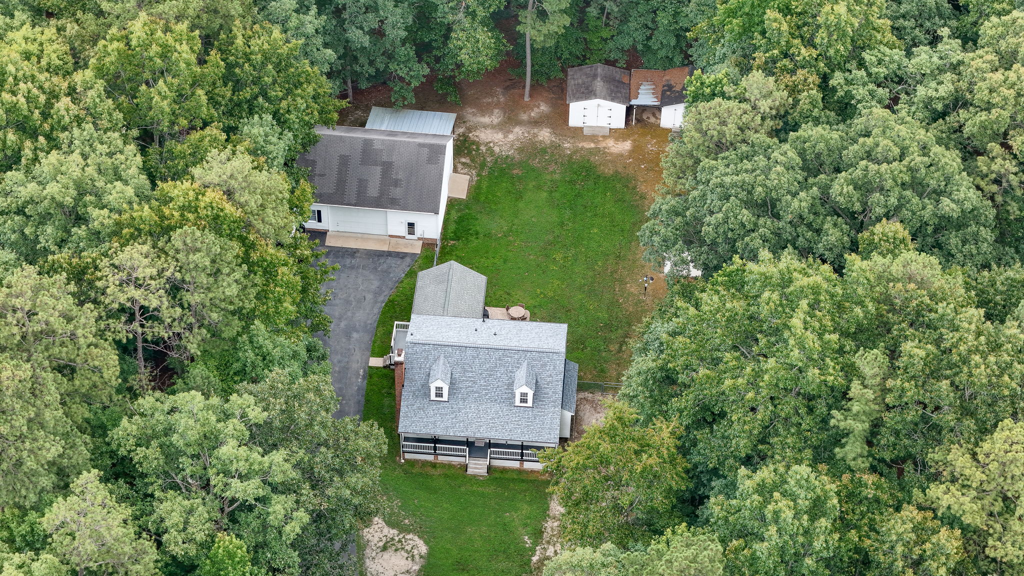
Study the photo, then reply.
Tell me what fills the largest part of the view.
trees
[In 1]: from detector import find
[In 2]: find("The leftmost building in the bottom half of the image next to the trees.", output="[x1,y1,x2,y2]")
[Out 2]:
[380,261,578,475]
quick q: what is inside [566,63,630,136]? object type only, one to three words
shed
